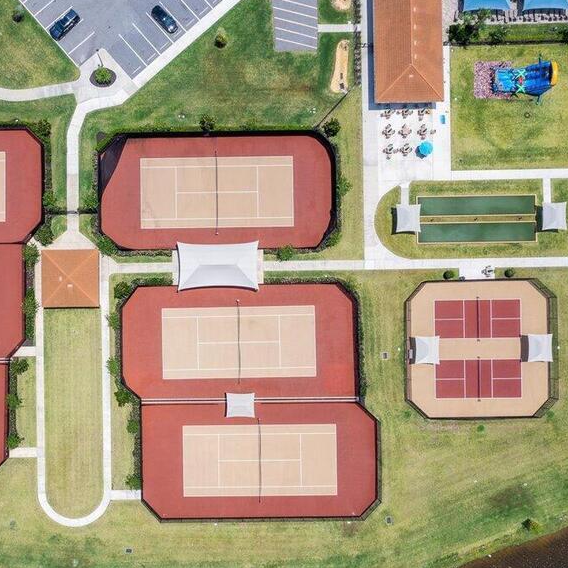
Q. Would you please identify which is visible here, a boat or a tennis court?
tennis court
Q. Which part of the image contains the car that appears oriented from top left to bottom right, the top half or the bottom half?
top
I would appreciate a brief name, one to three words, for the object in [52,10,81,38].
car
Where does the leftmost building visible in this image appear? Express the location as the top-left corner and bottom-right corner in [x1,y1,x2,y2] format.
[41,249,100,308]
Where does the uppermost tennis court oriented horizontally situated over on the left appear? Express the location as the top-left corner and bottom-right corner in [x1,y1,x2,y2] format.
[100,136,331,248]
